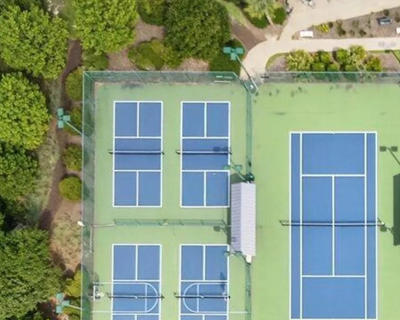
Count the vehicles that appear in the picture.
none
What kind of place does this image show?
sports ground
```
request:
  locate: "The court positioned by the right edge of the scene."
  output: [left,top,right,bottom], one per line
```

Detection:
[249,84,400,320]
